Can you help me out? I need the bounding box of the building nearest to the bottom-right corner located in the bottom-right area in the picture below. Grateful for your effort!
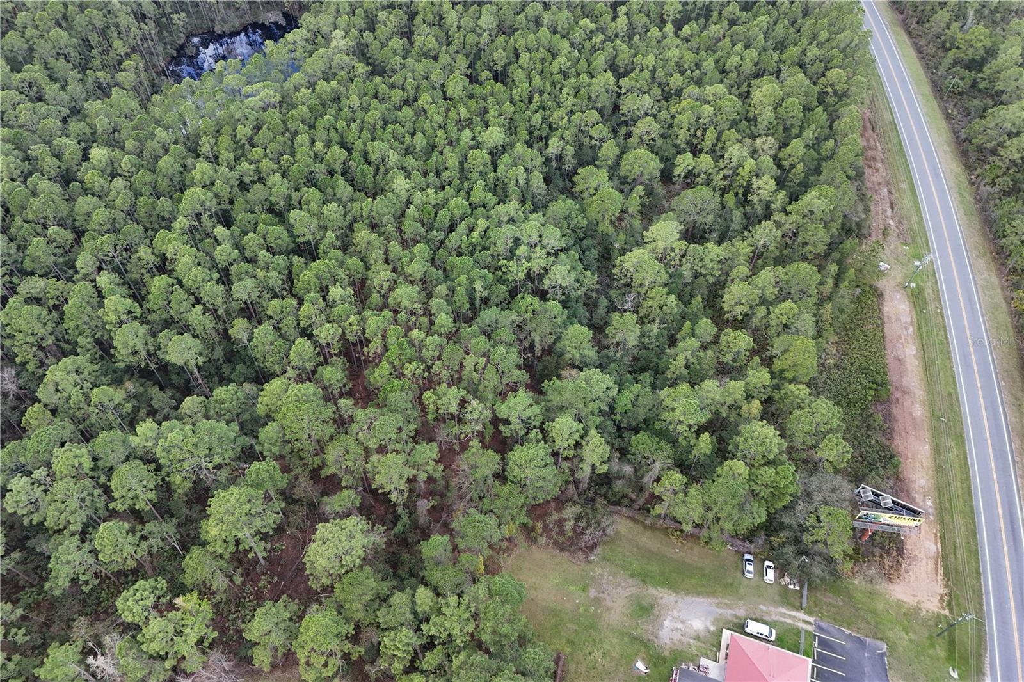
[723,632,810,682]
